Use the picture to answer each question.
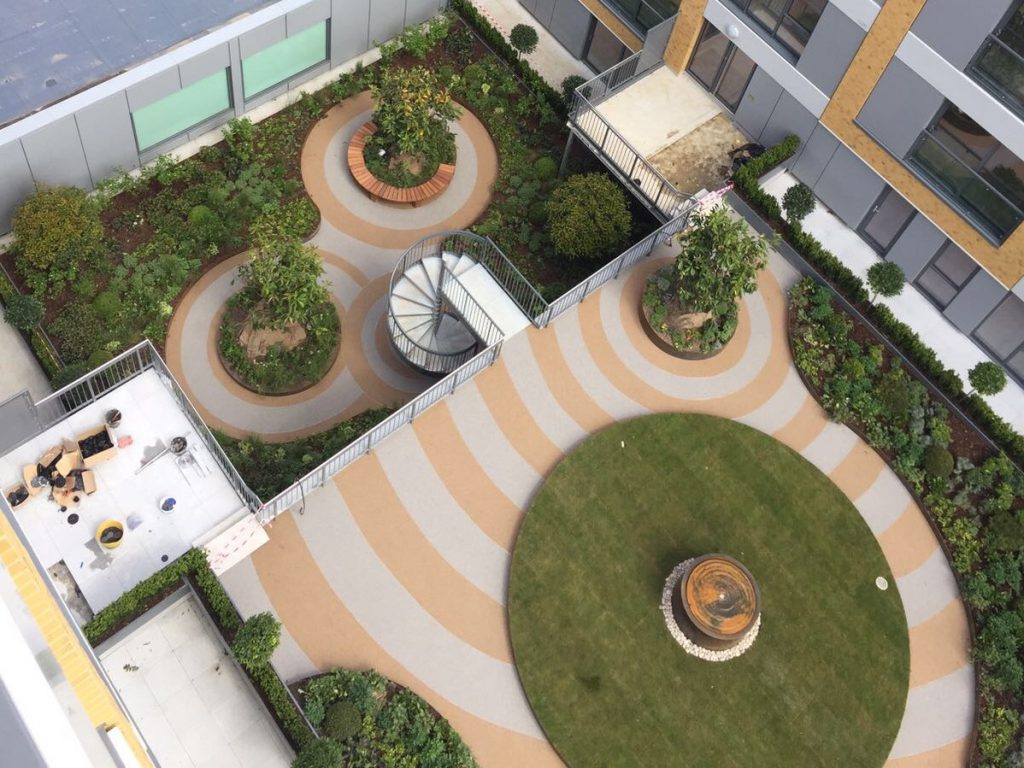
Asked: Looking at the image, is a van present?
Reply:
No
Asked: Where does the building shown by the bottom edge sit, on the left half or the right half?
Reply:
left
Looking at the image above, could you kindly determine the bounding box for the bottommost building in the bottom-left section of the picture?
[0,492,163,768]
